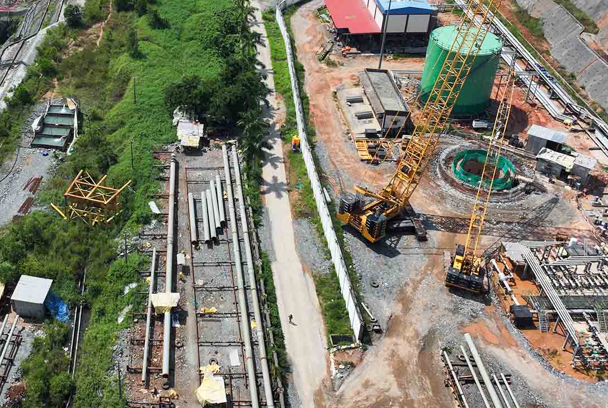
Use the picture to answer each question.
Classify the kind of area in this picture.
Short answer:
industrial area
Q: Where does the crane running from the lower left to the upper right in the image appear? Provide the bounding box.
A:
[335,0,518,249]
